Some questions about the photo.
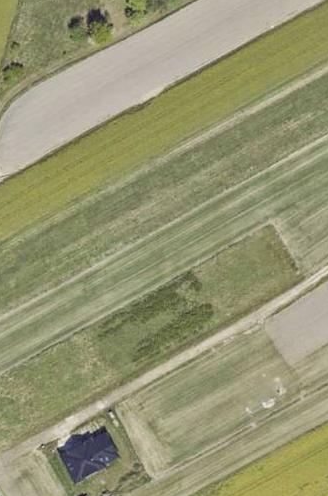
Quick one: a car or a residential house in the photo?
residential house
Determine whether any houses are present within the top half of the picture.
No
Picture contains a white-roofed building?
No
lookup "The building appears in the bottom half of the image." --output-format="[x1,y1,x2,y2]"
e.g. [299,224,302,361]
[59,427,117,484]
